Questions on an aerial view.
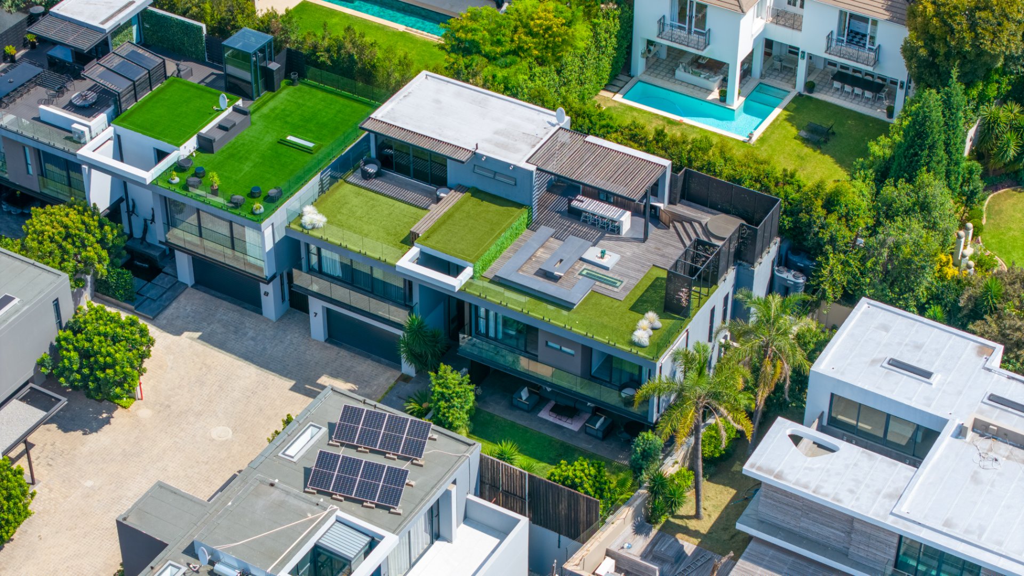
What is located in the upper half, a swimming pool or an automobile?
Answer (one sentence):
The feature located in the upper half is a swimming pool.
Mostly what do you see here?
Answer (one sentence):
What you mostly see from above here is buildings.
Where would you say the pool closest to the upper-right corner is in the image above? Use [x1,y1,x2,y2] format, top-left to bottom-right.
[611,77,798,144]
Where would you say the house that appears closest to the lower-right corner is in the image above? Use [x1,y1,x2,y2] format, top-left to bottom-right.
[729,299,1024,576]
